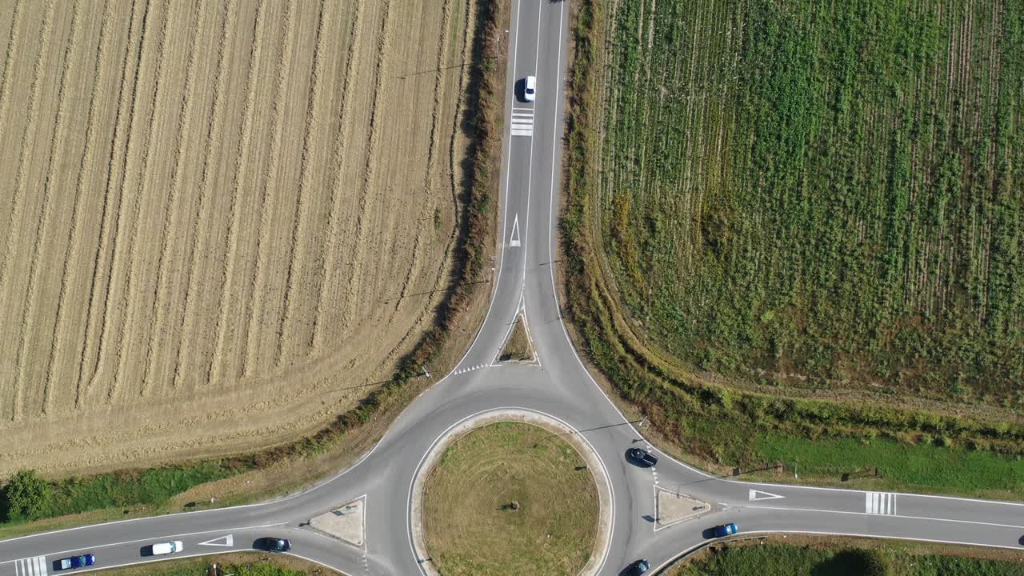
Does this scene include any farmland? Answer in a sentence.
Yes, farmland shows up in the scene.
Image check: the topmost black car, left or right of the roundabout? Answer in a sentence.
Looking at the picture, you'll find the topmost black car to the right of the roundabout.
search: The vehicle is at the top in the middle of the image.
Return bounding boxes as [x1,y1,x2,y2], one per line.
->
[523,76,536,101]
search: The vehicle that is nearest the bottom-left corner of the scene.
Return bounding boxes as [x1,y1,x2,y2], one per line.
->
[61,554,96,569]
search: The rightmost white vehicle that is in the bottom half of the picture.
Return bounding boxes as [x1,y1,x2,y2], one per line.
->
[152,540,184,555]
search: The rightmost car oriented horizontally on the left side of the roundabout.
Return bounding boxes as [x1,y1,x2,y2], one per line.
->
[265,537,292,551]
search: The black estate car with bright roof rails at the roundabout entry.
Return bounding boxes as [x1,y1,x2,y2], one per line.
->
[629,445,658,466]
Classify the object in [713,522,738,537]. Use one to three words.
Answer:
car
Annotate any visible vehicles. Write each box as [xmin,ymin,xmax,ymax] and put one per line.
[623,559,649,576]
[265,537,292,551]
[152,540,184,555]
[713,522,738,537]
[61,554,96,569]
[523,76,536,101]
[629,445,658,466]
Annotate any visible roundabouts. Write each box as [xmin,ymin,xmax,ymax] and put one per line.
[406,407,617,576]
